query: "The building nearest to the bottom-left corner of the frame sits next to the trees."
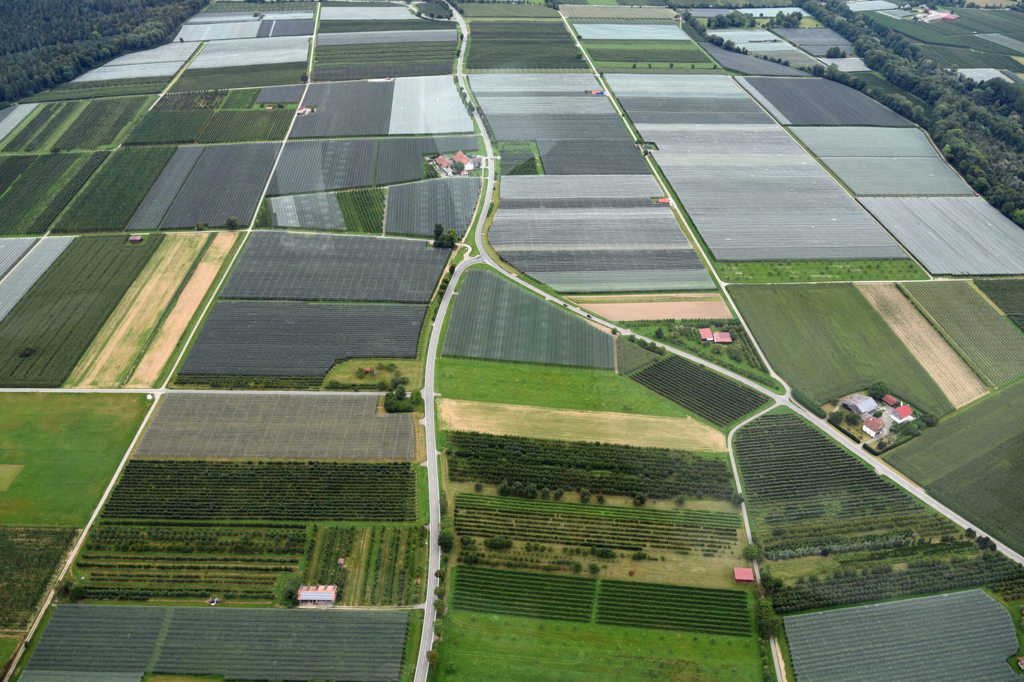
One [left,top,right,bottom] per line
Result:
[298,582,338,604]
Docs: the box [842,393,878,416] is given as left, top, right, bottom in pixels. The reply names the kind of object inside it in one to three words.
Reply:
barn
